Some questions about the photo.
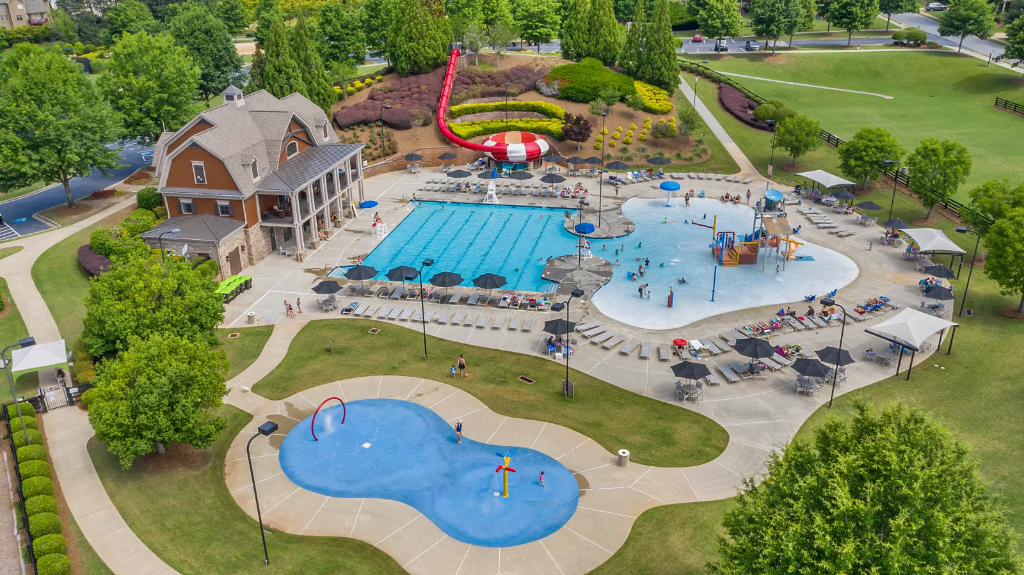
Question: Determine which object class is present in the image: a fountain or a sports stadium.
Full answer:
The one in the frame is a fountain.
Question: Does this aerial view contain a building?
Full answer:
Yes, a building is visible in the scene.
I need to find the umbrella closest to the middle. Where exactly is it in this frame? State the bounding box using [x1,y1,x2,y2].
[474,272,508,306]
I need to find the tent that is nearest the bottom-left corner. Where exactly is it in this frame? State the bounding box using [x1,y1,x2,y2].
[11,341,73,400]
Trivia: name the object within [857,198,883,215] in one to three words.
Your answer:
umbrella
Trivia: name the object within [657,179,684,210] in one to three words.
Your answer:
fountain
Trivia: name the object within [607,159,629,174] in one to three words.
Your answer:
umbrella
